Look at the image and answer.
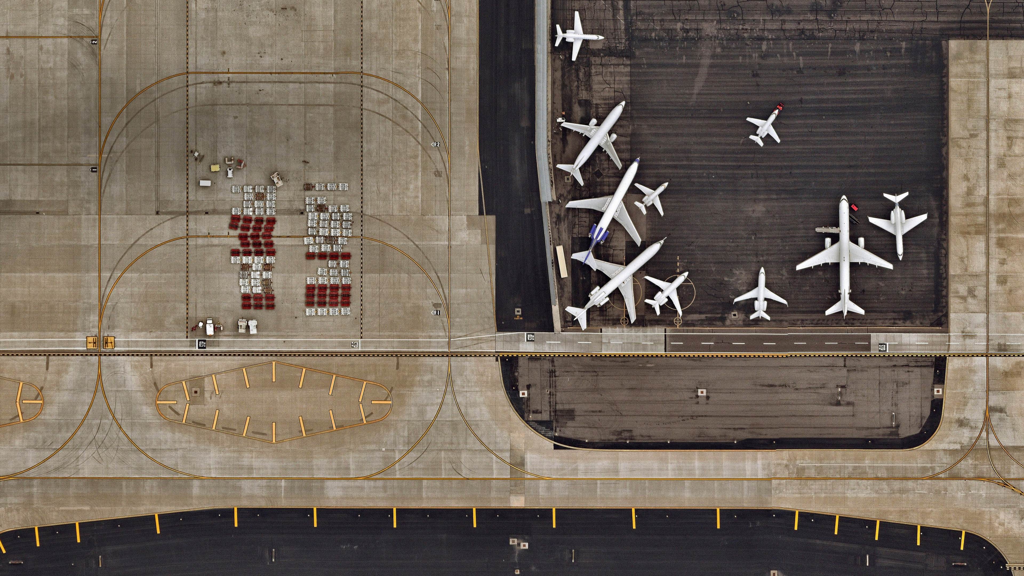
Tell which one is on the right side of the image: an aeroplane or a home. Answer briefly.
aeroplane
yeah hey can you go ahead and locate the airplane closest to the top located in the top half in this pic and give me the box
[555,11,604,60]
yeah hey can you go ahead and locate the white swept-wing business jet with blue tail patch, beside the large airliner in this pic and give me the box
[868,192,928,260]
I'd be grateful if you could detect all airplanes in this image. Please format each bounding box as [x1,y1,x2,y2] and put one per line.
[566,157,641,270]
[868,192,928,260]
[556,101,626,185]
[796,195,893,315]
[733,267,788,320]
[634,182,668,216]
[645,272,688,318]
[555,11,604,60]
[565,238,666,330]
[746,110,780,146]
